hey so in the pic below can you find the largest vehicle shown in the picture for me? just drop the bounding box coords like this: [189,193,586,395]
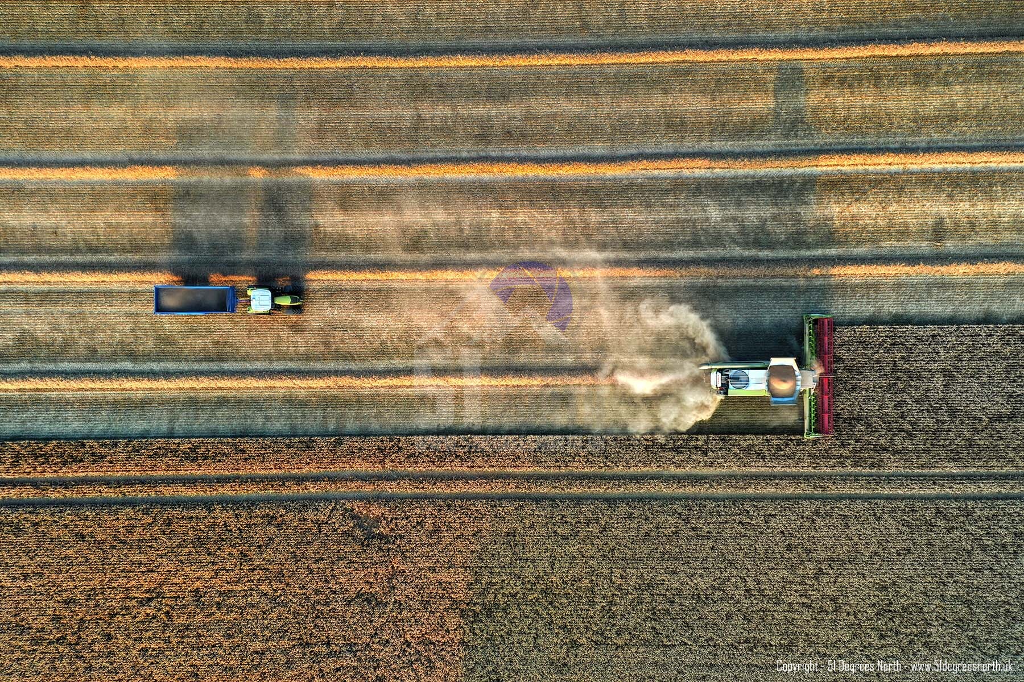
[690,314,834,438]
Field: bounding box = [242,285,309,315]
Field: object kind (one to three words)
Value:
work vehicle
